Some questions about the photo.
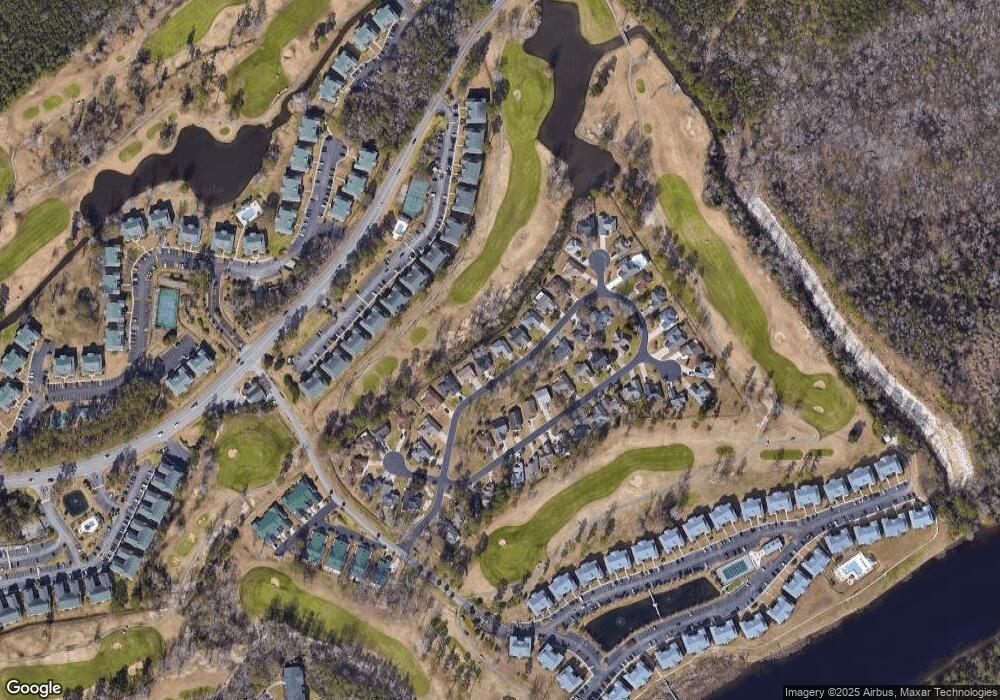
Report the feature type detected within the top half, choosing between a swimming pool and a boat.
swimming pool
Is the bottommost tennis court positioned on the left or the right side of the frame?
right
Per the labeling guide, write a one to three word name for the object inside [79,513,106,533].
swimming pool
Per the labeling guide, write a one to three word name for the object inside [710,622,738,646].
building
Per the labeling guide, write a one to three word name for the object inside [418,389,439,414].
house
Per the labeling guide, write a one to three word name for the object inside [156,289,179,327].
tennis court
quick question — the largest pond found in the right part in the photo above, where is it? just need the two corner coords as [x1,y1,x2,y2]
[586,577,720,651]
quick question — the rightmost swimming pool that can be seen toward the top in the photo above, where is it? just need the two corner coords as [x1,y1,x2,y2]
[393,220,408,237]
